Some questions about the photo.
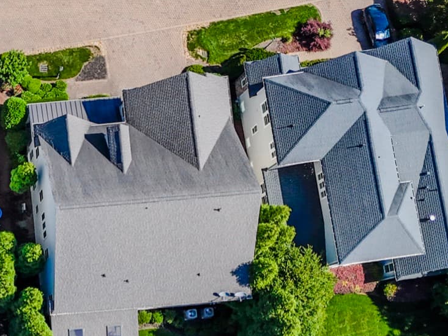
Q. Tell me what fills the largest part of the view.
buildings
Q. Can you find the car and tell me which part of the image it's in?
top right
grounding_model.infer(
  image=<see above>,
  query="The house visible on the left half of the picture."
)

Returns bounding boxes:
[27,72,268,336]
